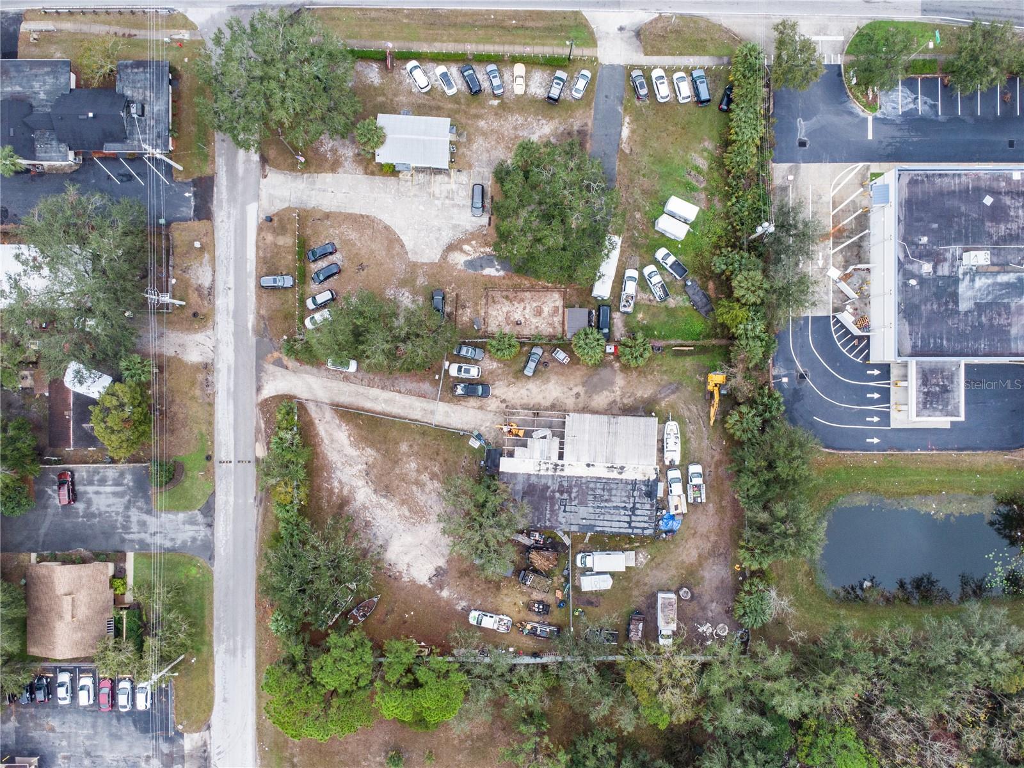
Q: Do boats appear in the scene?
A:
Yes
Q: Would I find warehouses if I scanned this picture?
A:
Yes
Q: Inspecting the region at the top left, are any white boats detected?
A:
No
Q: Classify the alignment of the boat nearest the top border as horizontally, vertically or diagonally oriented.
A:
vertically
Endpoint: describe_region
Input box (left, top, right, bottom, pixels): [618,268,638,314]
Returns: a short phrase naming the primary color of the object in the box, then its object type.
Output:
white vehicle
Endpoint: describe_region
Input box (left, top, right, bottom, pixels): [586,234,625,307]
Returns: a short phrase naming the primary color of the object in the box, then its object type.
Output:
white trailer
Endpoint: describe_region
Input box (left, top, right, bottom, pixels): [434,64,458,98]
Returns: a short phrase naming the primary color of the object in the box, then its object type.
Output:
white car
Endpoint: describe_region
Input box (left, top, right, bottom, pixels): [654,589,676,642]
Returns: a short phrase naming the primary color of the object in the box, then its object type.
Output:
white truck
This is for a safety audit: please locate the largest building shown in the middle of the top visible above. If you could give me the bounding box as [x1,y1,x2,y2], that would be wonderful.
[375,108,457,172]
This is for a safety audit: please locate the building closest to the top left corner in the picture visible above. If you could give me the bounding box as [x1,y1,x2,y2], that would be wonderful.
[0,58,174,164]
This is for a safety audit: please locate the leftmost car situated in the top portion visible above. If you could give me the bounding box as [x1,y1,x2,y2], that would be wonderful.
[260,273,294,289]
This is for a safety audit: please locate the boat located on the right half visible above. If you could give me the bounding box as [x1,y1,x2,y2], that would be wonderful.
[660,414,680,469]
